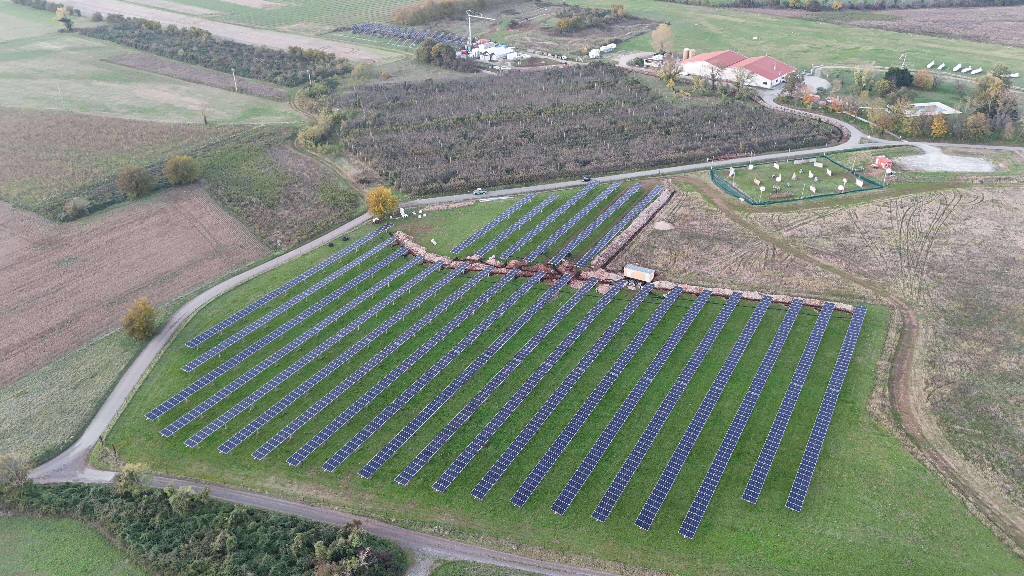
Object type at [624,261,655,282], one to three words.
building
